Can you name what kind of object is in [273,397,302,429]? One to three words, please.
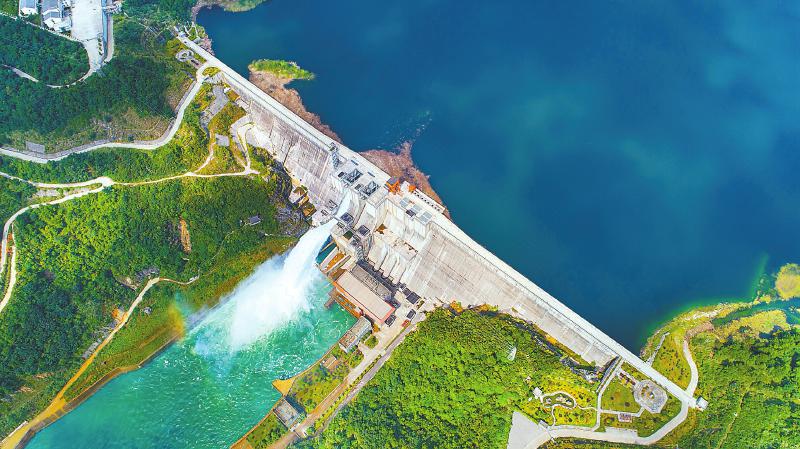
building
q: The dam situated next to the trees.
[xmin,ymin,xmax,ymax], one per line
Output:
[173,28,696,412]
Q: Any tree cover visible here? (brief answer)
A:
Yes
